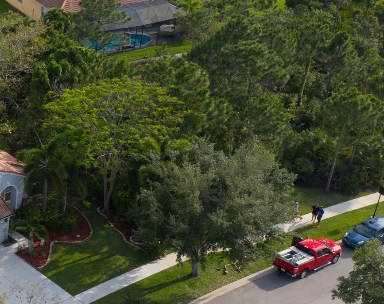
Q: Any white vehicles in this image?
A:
No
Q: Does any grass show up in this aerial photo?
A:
Yes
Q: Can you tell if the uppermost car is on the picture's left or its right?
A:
right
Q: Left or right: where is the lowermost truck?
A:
right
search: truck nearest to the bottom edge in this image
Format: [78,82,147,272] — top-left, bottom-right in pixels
[269,234,352,280]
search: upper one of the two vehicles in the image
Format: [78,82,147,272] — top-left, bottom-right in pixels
[337,210,384,250]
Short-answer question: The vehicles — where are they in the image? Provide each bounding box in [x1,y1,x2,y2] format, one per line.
[269,234,352,280]
[337,210,384,250]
